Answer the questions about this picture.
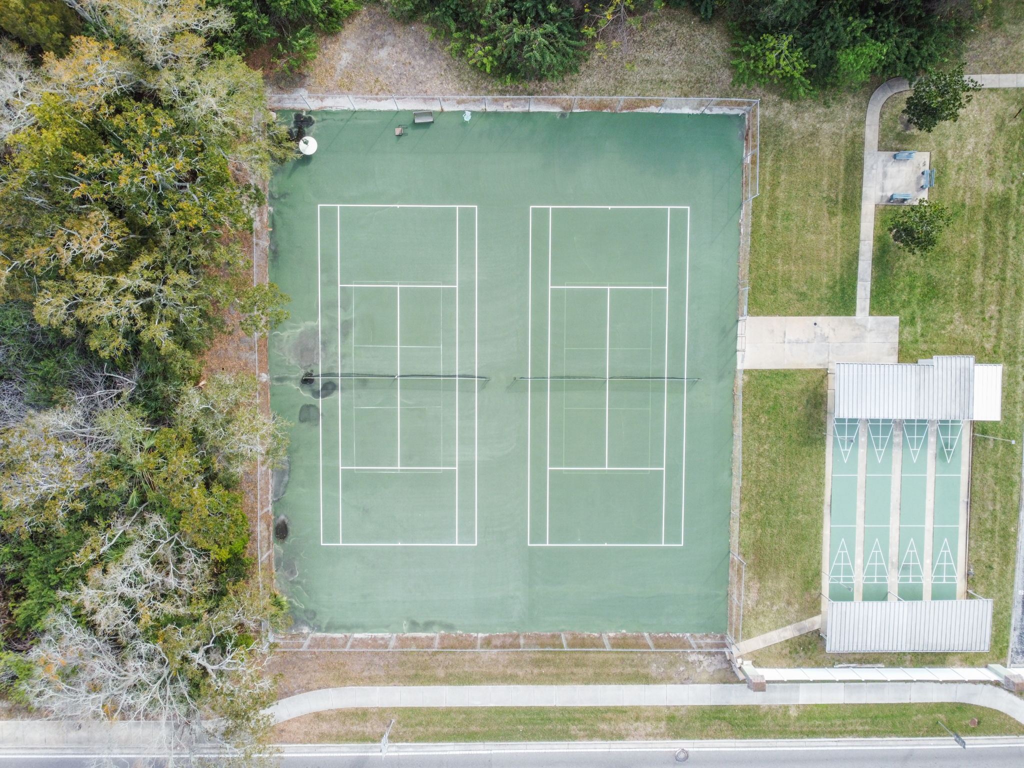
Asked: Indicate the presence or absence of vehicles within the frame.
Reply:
No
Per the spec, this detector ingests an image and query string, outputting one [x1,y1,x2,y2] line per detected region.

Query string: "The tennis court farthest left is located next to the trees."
[268,110,530,635]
